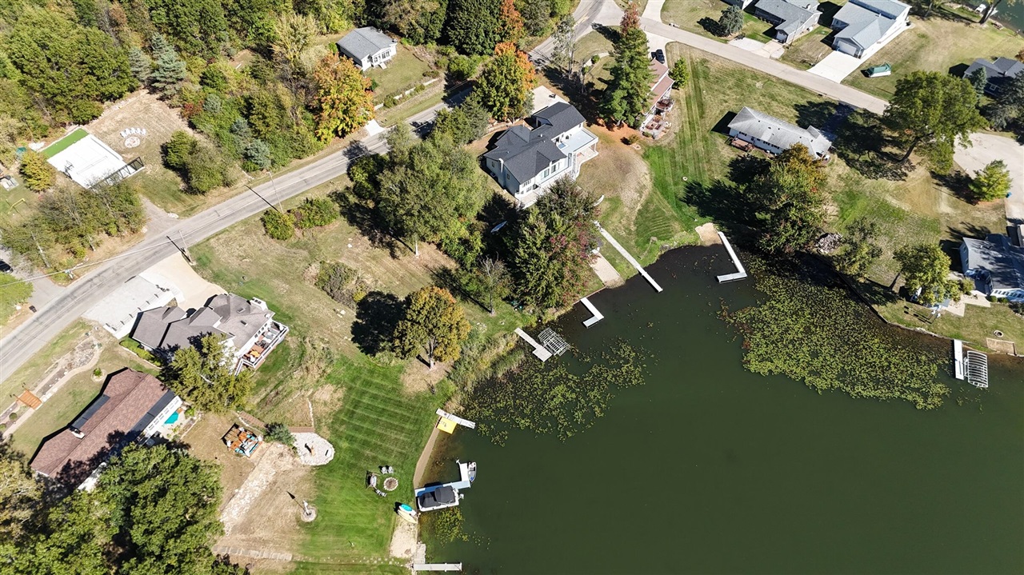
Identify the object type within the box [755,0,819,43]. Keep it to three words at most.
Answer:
house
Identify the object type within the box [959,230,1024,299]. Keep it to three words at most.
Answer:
house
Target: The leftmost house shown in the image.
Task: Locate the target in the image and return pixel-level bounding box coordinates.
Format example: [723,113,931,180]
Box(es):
[30,366,172,483]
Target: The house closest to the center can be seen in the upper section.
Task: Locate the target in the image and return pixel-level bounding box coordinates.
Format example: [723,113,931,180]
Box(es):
[484,102,599,205]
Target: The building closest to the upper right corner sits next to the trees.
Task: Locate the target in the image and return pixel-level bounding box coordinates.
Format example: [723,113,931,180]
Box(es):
[964,54,1024,101]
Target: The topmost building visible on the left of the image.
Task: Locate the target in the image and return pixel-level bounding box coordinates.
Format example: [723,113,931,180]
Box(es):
[336,22,396,72]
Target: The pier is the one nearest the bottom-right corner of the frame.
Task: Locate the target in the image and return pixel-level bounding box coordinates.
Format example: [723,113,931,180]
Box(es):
[951,339,964,382]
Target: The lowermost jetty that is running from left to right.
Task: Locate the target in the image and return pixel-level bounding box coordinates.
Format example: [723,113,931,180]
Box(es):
[413,562,462,574]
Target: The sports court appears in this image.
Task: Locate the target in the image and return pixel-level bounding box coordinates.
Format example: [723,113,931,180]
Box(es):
[50,133,145,190]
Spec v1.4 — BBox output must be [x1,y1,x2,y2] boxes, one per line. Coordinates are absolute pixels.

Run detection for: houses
[755,0,819,43]
[336,22,396,72]
[959,230,1024,299]
[833,0,915,57]
[728,105,830,163]
[484,102,599,205]
[964,54,1024,101]
[133,293,291,376]
[718,0,751,16]
[639,60,675,133]
[30,366,172,483]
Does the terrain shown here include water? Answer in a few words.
Yes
